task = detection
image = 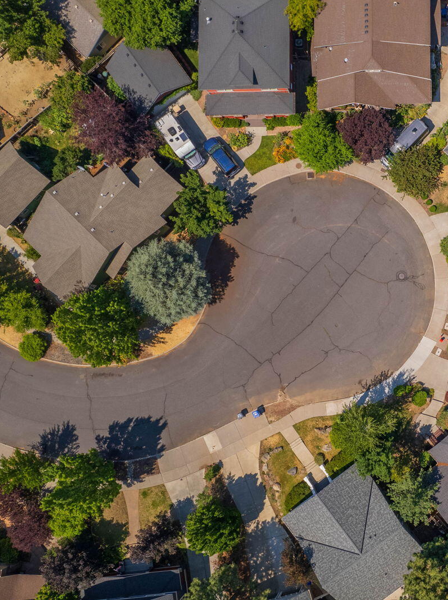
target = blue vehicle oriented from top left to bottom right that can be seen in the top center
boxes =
[203,136,241,180]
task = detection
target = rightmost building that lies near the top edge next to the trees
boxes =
[314,0,441,114]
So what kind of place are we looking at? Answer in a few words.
residential area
